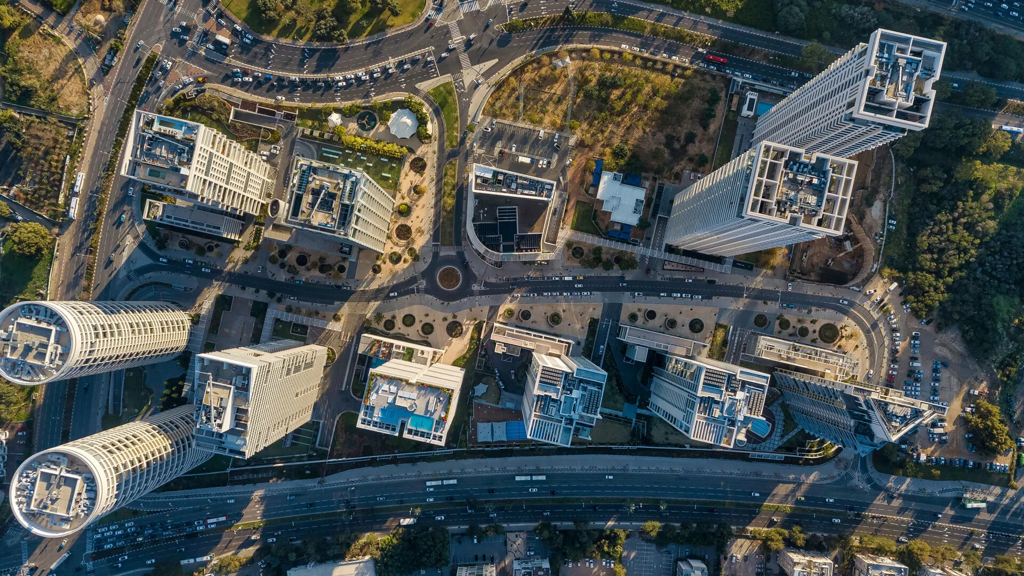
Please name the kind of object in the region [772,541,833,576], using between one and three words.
house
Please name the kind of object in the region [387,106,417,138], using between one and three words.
tent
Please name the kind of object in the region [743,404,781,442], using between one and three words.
swimming pool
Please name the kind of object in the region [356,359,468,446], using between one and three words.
building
